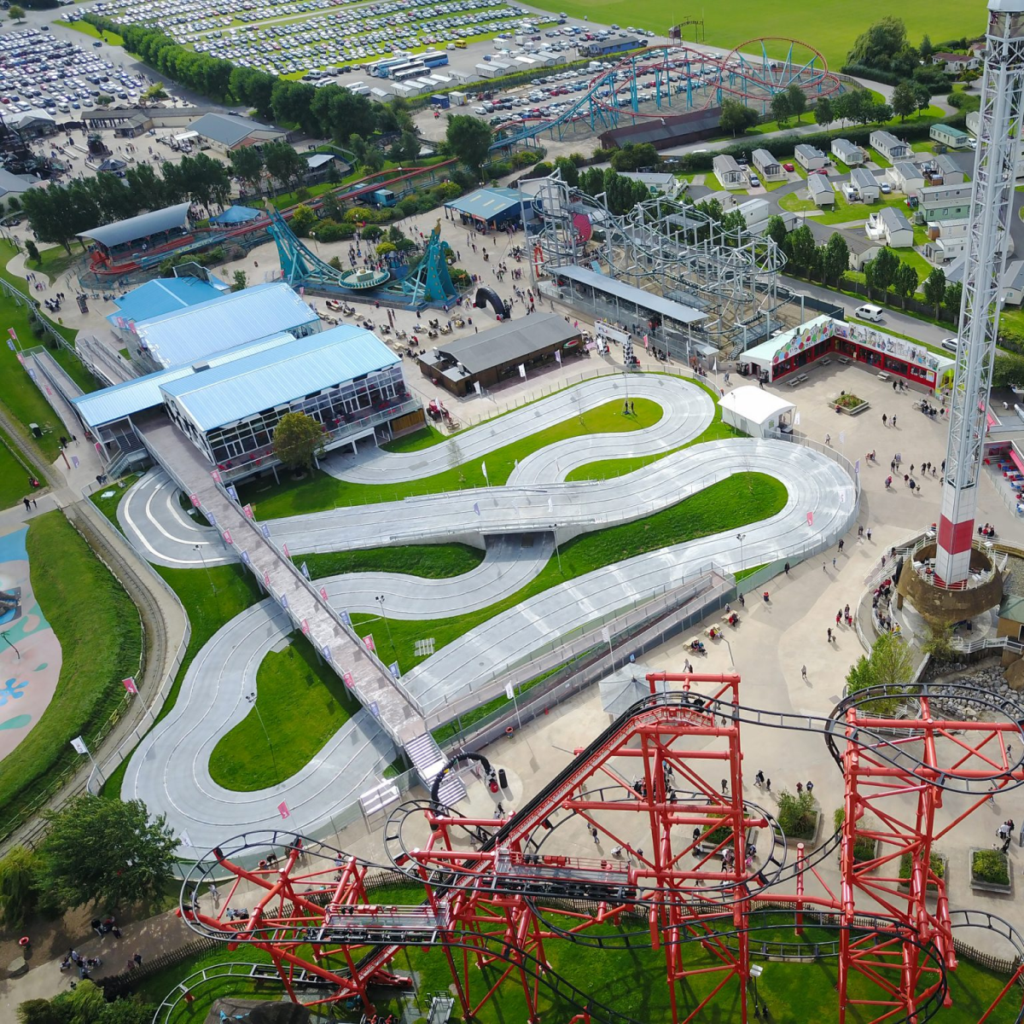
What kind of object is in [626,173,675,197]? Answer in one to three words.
house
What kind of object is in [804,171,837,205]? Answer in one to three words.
camper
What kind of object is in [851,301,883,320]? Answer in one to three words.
vehicle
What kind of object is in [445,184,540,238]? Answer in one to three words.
building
